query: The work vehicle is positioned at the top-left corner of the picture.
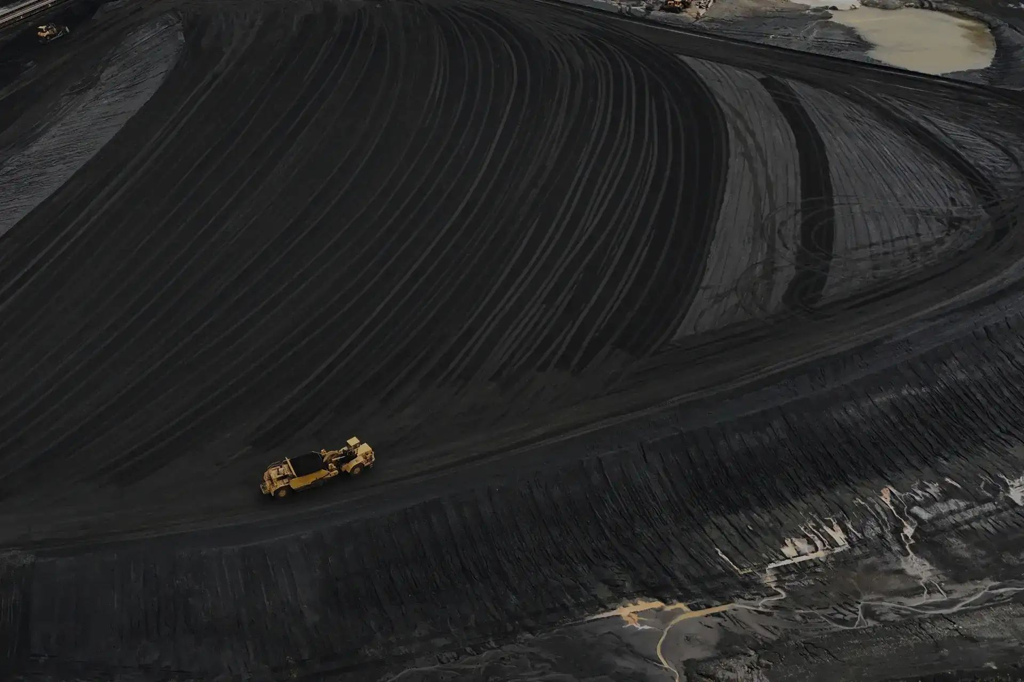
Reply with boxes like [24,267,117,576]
[38,23,68,41]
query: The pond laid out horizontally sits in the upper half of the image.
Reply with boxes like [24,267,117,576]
[796,0,1000,77]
